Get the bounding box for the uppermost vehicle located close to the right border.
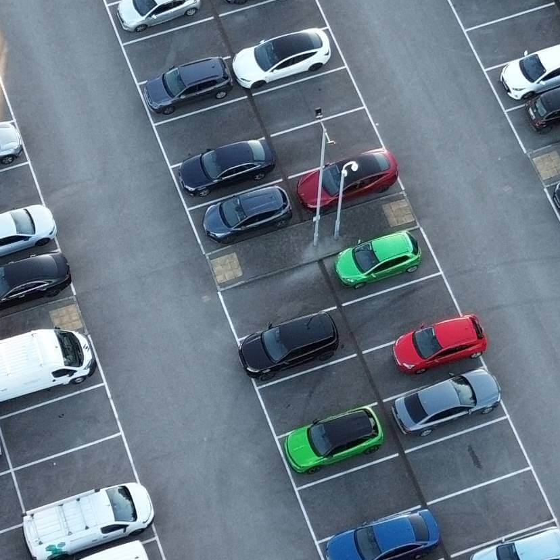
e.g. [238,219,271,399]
[497,43,560,99]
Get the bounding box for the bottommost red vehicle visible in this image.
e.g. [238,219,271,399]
[391,313,491,377]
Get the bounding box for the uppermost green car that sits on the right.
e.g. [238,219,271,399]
[333,226,424,287]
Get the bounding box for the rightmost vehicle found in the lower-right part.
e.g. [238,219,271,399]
[466,522,560,560]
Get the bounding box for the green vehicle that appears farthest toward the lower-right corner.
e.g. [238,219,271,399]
[283,408,388,477]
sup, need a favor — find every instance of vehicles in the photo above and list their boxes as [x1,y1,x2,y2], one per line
[0,121,25,162]
[523,88,560,137]
[391,313,491,377]
[0,206,59,259]
[295,145,402,212]
[235,307,344,378]
[497,43,560,99]
[201,185,296,247]
[0,247,76,310]
[229,26,335,90]
[143,56,235,118]
[389,365,504,435]
[466,522,560,560]
[325,504,445,560]
[115,0,203,32]
[19,474,157,560]
[65,535,151,560]
[0,322,99,404]
[283,408,388,477]
[176,139,279,202]
[333,226,424,287]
